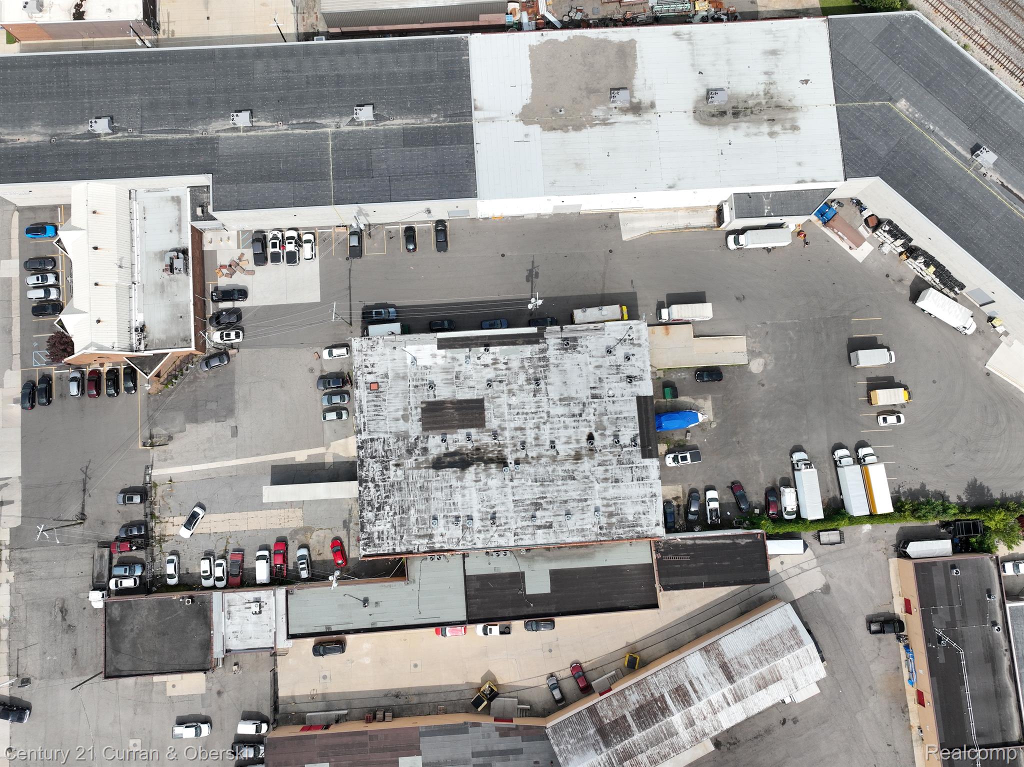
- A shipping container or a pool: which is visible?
shipping container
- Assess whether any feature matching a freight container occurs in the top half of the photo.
Yes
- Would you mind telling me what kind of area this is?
industrial area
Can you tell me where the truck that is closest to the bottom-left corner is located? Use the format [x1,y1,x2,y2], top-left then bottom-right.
[0,704,35,725]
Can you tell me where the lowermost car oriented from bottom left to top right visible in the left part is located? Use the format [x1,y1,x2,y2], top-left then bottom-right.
[181,507,205,536]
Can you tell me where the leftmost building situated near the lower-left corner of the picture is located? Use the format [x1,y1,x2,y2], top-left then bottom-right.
[102,586,226,680]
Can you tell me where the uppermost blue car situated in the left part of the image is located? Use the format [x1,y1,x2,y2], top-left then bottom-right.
[28,225,56,238]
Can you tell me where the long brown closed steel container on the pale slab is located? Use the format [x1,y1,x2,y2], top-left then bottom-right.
[821,216,863,252]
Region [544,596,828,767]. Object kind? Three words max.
shed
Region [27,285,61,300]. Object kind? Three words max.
car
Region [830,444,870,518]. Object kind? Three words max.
truck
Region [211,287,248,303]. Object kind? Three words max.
vehicle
